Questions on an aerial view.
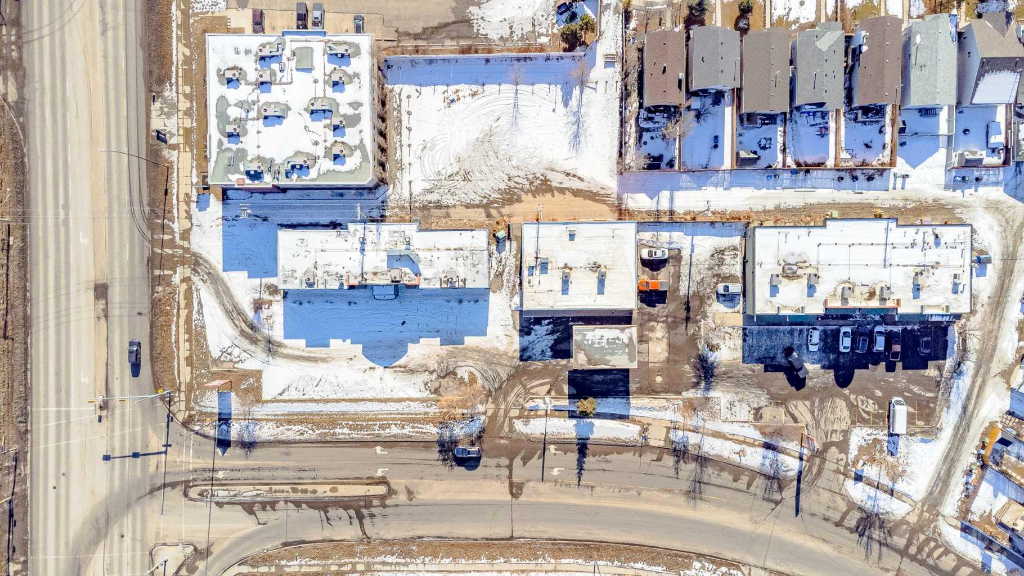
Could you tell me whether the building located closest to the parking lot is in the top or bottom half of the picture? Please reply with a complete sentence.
You can find the building located closest to the parking lot in the top half.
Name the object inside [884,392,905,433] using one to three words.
vehicle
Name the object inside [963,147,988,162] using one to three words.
shed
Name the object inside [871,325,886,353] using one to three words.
car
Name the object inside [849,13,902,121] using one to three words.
house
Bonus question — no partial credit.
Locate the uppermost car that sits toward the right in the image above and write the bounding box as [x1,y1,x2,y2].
[639,247,668,259]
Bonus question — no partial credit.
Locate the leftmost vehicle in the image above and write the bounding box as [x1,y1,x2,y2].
[126,338,142,366]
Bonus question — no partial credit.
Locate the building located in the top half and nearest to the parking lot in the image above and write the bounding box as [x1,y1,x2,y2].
[206,29,383,197]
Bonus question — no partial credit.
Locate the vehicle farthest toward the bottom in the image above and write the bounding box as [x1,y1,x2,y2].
[455,445,482,459]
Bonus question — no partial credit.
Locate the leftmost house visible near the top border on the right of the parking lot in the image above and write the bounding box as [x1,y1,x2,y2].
[641,28,686,118]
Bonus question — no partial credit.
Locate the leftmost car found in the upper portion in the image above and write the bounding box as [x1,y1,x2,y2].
[252,8,267,33]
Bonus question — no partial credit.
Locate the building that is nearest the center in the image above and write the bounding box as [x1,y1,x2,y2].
[522,221,637,317]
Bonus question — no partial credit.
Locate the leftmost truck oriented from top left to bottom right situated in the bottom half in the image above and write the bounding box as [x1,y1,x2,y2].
[783,347,809,381]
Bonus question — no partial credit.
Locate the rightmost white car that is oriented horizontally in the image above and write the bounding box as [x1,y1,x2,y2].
[716,282,744,295]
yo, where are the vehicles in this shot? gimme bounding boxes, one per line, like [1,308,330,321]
[884,392,905,433]
[716,282,744,295]
[295,0,309,29]
[887,328,903,360]
[837,325,852,353]
[252,8,267,33]
[854,327,868,354]
[311,0,325,29]
[637,278,668,292]
[639,247,668,259]
[352,12,365,33]
[783,347,809,381]
[871,325,886,353]
[126,338,142,366]
[455,445,482,459]
[806,326,821,350]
